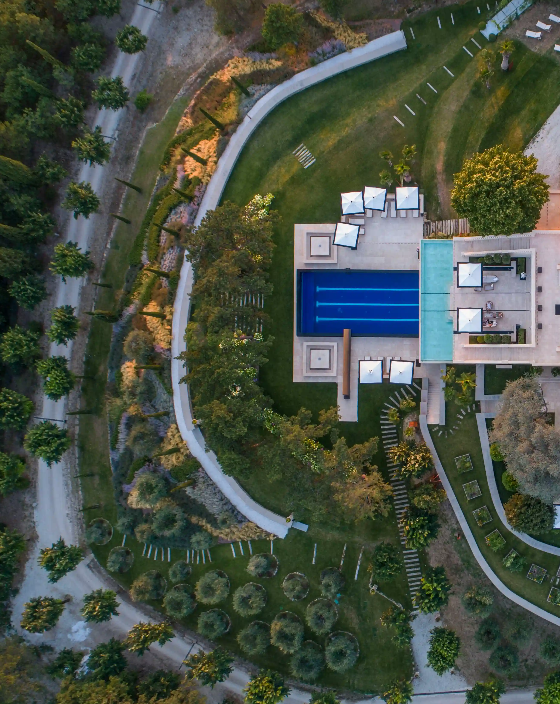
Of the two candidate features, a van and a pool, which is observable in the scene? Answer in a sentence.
There is a pool in the scene.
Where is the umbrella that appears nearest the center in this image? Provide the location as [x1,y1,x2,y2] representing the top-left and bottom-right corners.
[358,360,383,384]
